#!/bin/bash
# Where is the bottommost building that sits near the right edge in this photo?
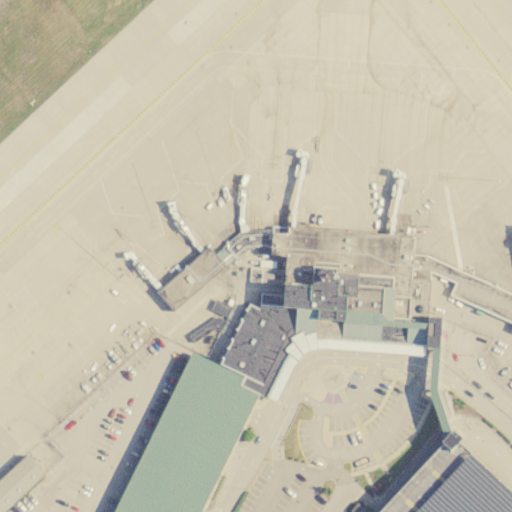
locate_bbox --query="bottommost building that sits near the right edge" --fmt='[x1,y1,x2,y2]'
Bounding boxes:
[376,446,512,512]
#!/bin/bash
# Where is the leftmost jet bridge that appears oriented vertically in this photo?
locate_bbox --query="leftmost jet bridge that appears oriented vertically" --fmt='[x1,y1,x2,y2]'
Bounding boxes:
[238,172,250,232]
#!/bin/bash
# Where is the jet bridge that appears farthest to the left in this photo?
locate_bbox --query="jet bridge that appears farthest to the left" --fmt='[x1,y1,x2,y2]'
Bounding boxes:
[126,253,163,290]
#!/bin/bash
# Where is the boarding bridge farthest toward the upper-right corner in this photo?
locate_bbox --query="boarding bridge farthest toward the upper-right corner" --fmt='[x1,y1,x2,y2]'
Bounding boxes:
[387,172,408,232]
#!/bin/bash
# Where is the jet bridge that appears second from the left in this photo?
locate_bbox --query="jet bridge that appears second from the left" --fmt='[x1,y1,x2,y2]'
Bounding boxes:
[164,202,206,252]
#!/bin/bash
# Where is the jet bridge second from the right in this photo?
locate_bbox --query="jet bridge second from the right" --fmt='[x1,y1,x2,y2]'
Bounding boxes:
[290,150,310,227]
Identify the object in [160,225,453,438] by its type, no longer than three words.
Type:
building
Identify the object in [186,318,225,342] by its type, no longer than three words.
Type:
shed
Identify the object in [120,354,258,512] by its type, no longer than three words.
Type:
building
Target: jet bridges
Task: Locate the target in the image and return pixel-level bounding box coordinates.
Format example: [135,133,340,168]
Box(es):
[126,253,163,290]
[238,172,250,232]
[164,202,206,252]
[290,150,310,227]
[387,172,408,232]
